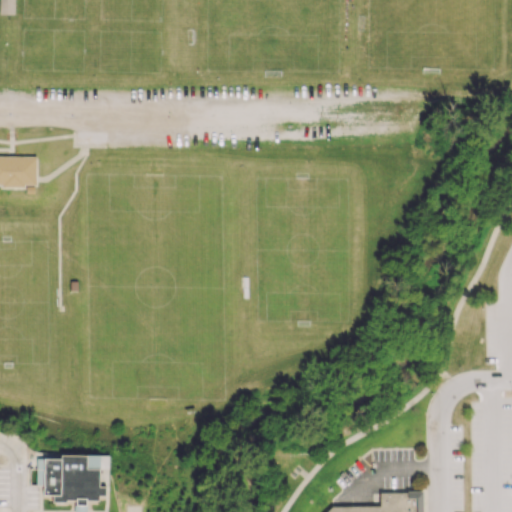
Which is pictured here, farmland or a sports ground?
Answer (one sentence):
This image shows a sports ground.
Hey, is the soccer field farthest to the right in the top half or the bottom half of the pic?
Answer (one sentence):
It is in the top half that the soccer field farthest to the right appears.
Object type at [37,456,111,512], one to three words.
building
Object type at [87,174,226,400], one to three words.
soccer field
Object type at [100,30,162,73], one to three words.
soccer field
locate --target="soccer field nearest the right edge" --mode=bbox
[368,0,495,69]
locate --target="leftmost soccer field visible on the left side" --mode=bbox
[0,240,50,364]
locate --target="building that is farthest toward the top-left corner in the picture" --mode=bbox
[0,155,36,188]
